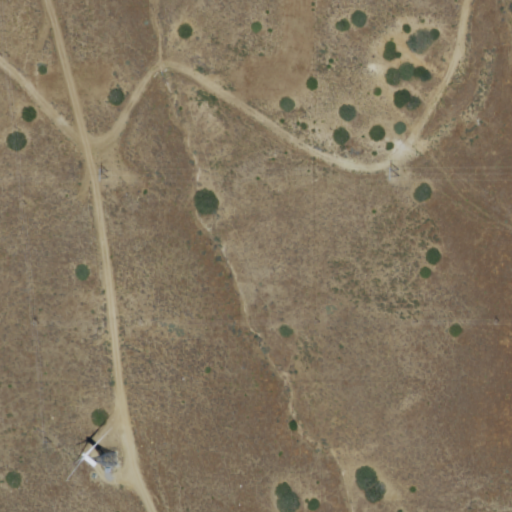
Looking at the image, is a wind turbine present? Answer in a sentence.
Yes, there's a wind turbine down there.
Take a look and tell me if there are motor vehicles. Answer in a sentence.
No, there appears to be no motor vehicle in this shot.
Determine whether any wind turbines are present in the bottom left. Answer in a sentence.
Yes, there is a wind turbine in the bottom left.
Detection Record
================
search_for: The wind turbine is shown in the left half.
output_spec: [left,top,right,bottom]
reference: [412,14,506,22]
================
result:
[69,430,118,484]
